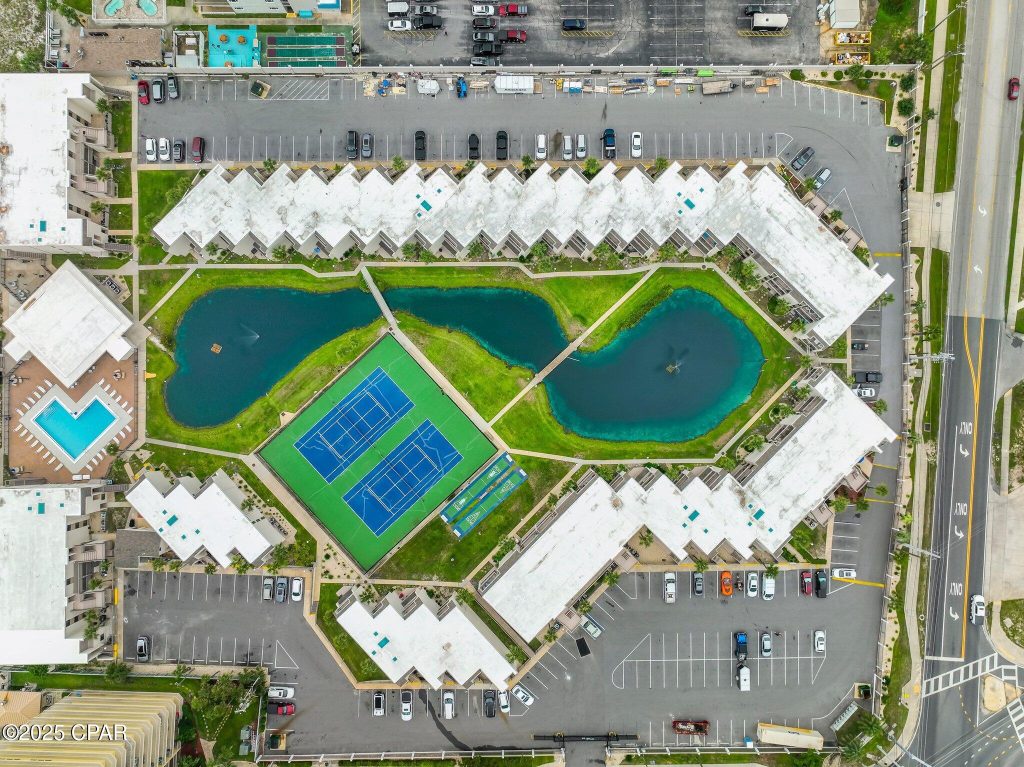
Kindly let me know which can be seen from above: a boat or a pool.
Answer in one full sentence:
There is a pool in the scene.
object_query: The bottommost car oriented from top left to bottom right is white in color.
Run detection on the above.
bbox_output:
[512,683,533,706]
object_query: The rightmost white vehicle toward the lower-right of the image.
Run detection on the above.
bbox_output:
[969,594,985,625]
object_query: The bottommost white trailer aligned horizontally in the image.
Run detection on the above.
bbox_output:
[753,720,823,749]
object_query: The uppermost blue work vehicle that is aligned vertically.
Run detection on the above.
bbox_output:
[456,73,468,98]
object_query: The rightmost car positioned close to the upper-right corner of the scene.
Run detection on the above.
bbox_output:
[1006,77,1020,102]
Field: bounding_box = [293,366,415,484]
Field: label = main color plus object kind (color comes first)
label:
blue tennis court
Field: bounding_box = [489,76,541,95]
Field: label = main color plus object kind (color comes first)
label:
white trailer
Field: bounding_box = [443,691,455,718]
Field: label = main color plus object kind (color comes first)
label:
white vehicle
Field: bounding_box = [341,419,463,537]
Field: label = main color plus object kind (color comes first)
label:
blue tennis court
